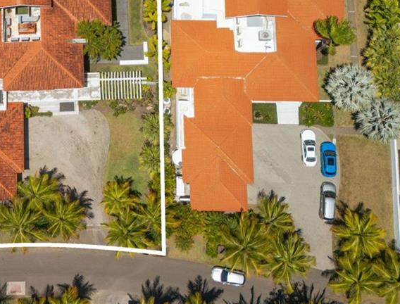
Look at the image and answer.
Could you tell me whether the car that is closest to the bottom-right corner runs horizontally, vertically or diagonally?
vertically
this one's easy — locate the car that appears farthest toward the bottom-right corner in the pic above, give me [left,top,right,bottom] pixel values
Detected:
[318,182,338,221]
